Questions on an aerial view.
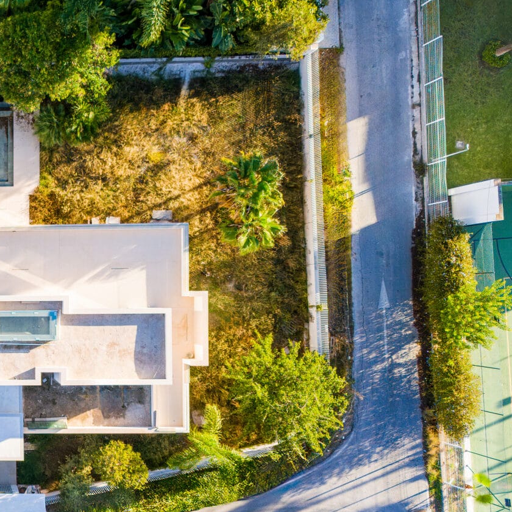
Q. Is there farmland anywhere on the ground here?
No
